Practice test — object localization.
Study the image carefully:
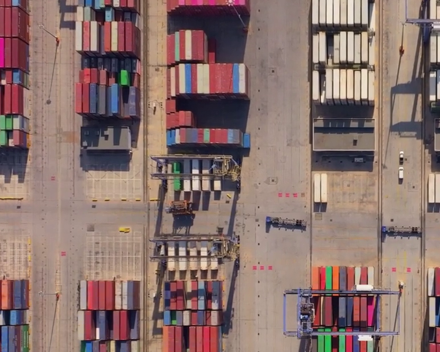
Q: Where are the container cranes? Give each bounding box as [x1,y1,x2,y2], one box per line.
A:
[406,0,440,47]
[283,285,400,341]
[148,231,241,268]
[149,153,241,192]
